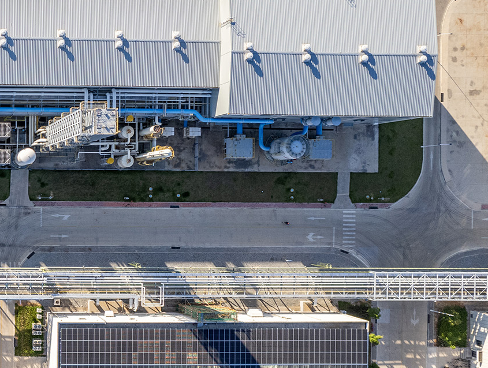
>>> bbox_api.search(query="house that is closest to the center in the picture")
[216,123,256,158]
